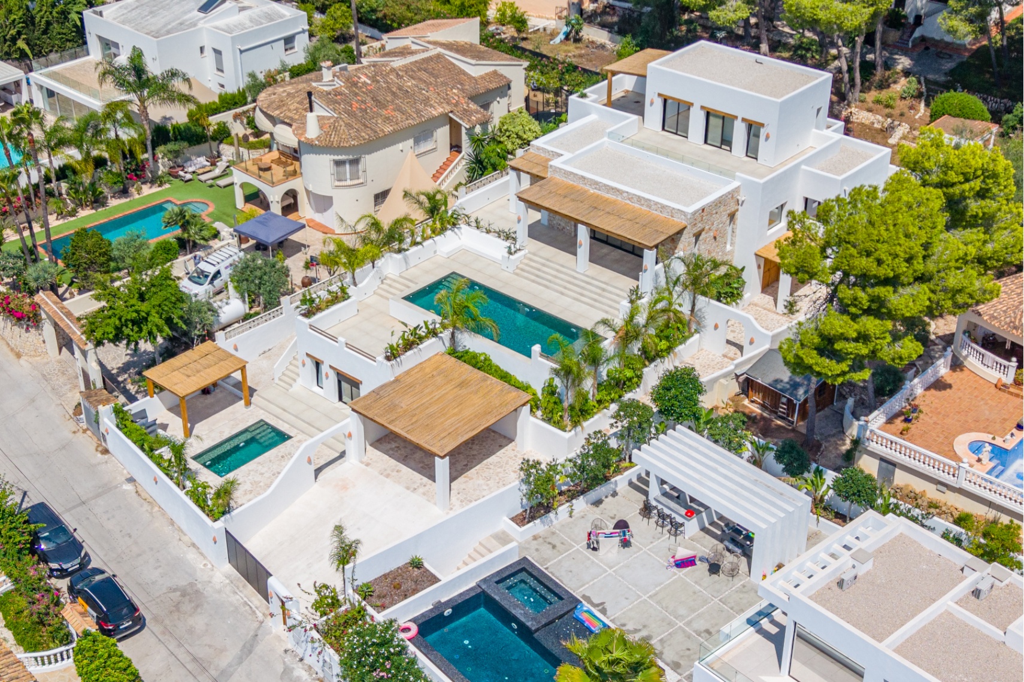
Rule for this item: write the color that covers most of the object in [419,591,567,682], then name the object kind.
blue swimming pool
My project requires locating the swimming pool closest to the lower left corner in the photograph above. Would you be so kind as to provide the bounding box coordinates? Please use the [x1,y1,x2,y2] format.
[190,418,294,478]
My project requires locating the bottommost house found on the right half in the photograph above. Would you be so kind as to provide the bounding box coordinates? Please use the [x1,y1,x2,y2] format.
[757,511,1024,682]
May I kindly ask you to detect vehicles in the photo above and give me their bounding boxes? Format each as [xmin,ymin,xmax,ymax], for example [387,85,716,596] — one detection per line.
[187,239,257,302]
[12,491,88,570]
[64,566,145,639]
